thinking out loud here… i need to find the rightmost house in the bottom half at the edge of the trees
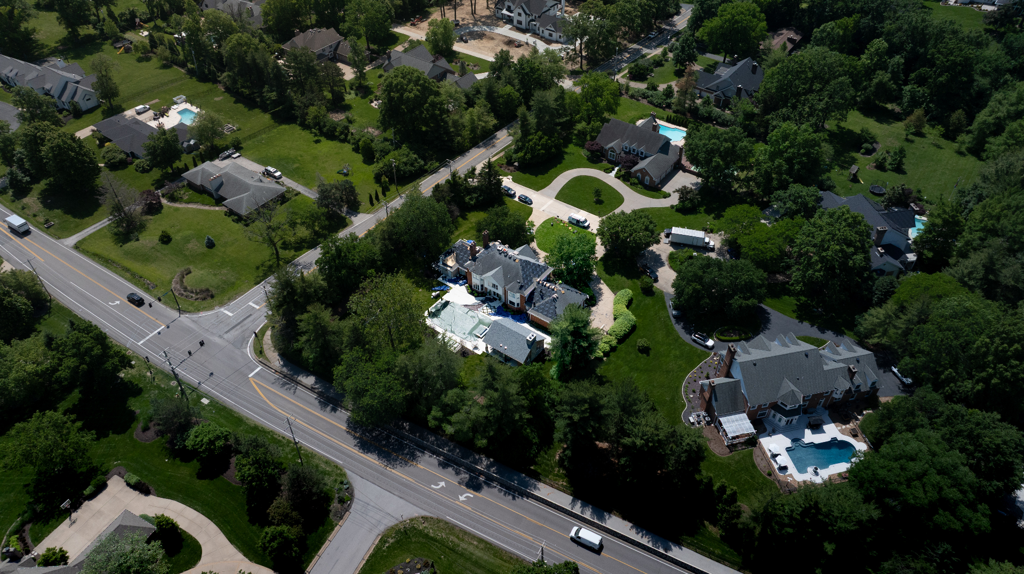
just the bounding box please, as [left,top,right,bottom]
[696,332,881,437]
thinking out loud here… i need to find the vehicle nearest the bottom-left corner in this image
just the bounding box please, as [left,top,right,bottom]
[125,290,145,304]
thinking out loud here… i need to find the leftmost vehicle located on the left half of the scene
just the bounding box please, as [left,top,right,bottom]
[3,212,28,231]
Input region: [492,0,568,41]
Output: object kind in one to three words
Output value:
house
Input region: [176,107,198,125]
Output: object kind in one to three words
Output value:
swimming pool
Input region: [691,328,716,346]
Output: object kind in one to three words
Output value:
car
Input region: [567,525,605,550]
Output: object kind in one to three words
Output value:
vehicle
